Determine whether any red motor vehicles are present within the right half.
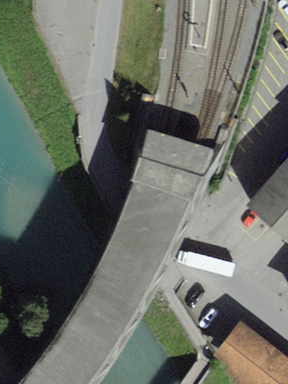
Yes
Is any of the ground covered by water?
Yes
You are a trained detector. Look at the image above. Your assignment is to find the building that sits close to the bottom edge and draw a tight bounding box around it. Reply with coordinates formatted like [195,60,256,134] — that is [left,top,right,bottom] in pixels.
[210,322,288,384]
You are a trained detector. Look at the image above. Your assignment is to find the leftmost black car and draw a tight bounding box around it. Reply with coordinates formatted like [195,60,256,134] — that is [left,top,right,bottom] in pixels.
[188,284,204,307]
